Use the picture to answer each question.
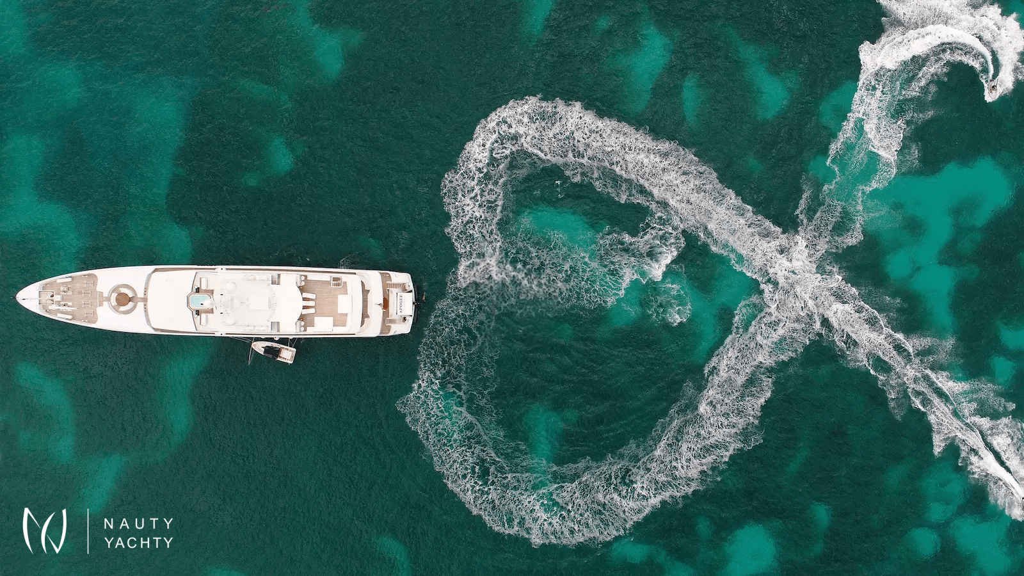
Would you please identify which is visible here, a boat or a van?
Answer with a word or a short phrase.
boat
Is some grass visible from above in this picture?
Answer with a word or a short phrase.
No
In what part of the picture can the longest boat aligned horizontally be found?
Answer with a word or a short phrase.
left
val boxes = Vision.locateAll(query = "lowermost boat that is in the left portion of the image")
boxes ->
[252,341,296,367]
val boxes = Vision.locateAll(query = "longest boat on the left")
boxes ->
[14,265,425,366]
